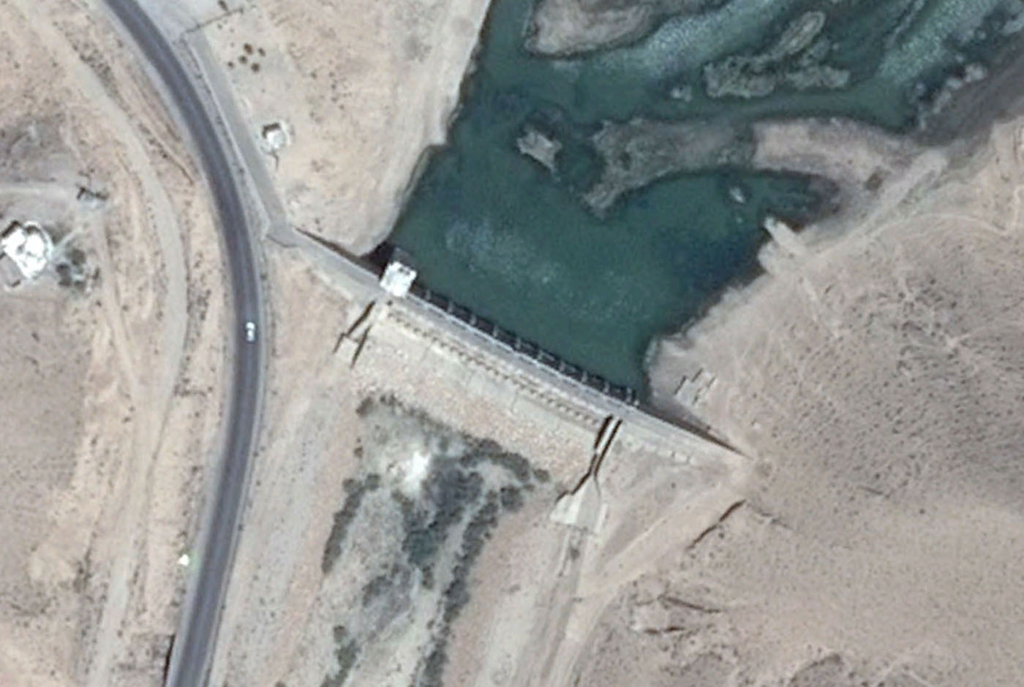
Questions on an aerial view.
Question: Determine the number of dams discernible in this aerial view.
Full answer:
In total, 1 dam can be seen.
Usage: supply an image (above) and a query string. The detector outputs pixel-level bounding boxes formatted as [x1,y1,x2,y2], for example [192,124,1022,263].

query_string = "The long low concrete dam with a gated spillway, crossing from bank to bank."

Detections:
[281,227,755,474]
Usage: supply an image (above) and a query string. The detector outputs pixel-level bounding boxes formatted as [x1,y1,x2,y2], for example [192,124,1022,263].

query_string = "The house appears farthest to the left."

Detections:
[0,219,52,278]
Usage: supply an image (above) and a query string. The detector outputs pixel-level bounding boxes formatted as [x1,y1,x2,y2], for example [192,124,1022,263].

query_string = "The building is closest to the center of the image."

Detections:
[381,248,418,297]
